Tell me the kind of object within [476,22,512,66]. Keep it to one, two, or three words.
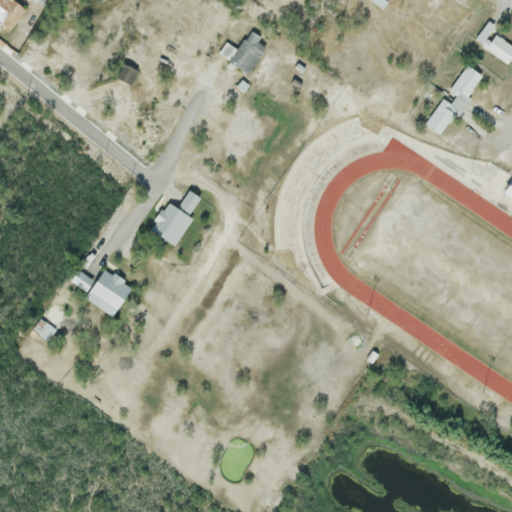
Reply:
house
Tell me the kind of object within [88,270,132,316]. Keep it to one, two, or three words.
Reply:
house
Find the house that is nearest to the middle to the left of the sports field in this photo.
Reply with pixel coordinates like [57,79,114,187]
[152,191,201,244]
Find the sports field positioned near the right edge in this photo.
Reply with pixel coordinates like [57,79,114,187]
[332,170,512,380]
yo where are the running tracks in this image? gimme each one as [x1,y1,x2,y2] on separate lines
[315,137,512,401]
